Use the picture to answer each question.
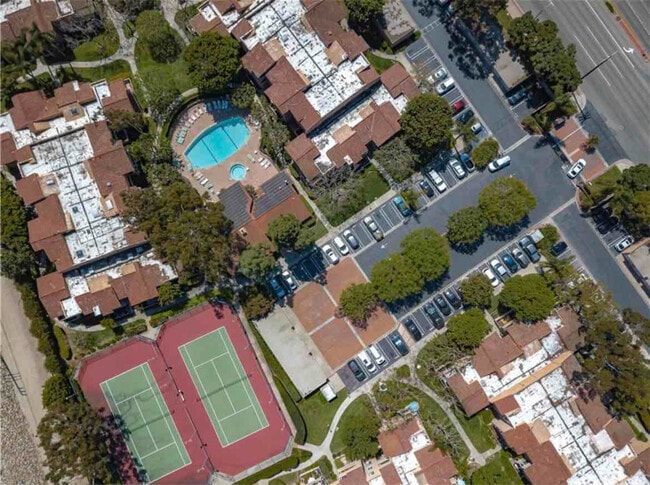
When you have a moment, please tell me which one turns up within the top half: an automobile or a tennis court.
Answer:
automobile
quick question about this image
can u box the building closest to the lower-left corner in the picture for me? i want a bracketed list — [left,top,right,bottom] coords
[36,255,177,321]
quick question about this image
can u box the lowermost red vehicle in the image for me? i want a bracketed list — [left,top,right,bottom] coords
[448,97,468,113]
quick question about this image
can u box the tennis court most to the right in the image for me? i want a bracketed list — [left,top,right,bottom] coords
[156,303,291,476]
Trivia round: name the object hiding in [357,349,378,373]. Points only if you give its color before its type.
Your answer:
white vehicle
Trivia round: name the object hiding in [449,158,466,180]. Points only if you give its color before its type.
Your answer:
white car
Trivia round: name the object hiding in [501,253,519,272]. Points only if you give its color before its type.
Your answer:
blue car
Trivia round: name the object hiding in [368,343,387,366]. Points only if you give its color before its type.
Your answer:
white vehicle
